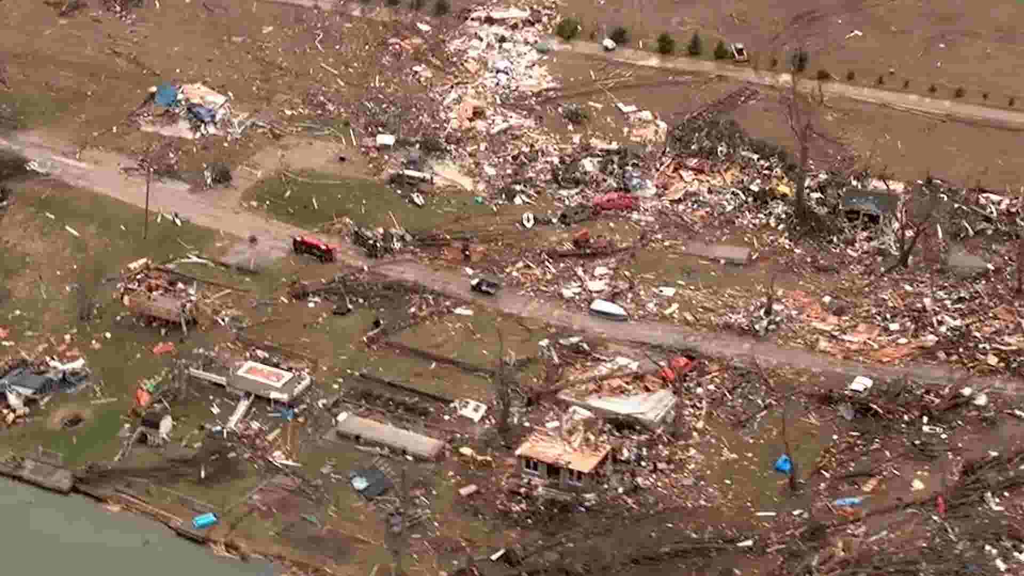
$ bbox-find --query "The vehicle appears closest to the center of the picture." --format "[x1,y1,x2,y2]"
[469,278,502,297]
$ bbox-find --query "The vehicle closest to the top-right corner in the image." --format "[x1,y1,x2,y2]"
[729,44,751,62]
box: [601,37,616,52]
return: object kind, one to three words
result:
car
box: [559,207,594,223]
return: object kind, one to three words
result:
car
